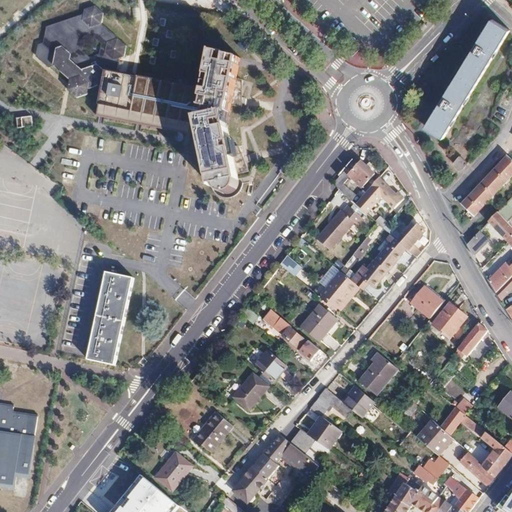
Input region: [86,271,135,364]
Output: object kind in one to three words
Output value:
building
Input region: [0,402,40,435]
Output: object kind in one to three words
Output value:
building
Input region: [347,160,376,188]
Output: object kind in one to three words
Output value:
house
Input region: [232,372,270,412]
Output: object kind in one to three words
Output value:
house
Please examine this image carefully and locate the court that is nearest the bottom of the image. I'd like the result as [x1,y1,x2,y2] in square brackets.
[0,262,46,340]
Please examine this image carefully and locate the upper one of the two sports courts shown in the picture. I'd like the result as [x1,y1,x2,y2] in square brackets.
[0,160,39,250]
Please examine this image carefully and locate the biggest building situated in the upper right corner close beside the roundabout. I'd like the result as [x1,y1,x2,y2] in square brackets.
[423,20,509,142]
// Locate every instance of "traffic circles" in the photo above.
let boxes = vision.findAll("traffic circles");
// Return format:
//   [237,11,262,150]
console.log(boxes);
[327,66,404,143]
